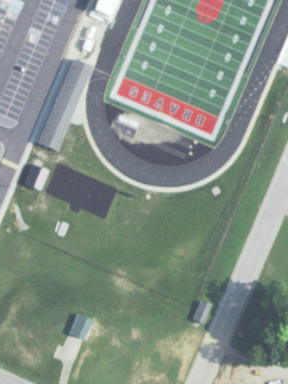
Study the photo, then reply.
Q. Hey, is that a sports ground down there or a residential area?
sports ground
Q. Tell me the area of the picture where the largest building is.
top left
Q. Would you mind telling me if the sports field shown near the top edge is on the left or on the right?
right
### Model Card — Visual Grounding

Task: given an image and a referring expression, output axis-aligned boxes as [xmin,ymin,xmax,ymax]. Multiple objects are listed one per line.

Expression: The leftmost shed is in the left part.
[24,163,49,190]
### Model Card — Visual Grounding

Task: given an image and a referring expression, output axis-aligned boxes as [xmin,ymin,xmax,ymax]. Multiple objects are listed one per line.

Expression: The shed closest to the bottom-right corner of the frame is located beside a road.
[192,301,213,325]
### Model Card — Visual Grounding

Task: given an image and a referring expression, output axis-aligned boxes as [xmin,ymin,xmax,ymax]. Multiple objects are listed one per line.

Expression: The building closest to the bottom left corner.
[68,314,94,342]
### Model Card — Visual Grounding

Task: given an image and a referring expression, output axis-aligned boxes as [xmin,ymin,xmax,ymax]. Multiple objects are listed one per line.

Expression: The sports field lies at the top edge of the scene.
[104,0,282,148]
